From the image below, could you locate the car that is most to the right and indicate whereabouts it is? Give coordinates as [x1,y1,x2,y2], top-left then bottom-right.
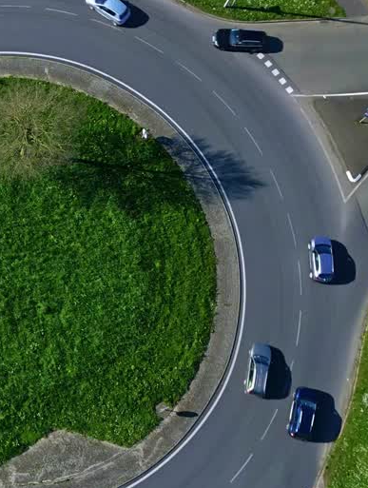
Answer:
[308,234,337,282]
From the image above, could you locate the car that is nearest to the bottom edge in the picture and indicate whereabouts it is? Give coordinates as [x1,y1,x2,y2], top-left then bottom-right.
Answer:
[286,386,319,440]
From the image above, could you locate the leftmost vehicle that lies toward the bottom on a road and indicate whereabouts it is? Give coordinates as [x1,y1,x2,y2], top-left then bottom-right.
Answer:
[244,342,275,396]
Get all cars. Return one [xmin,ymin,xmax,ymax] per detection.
[85,0,131,26]
[286,386,319,440]
[244,342,275,396]
[212,25,266,51]
[308,234,337,282]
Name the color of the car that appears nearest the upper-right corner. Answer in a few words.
black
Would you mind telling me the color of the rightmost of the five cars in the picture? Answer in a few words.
blue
